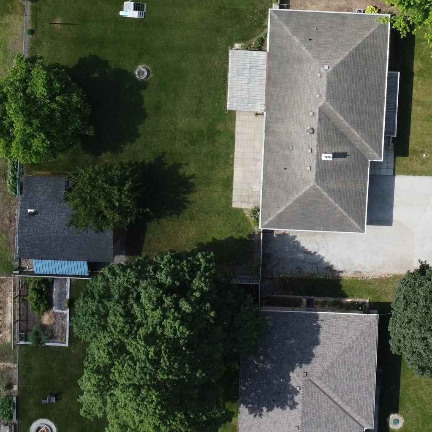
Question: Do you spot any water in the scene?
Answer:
No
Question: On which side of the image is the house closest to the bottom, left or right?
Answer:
right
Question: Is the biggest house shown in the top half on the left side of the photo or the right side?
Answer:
right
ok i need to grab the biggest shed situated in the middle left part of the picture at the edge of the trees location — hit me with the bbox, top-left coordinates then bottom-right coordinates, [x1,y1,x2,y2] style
[22,174,119,262]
